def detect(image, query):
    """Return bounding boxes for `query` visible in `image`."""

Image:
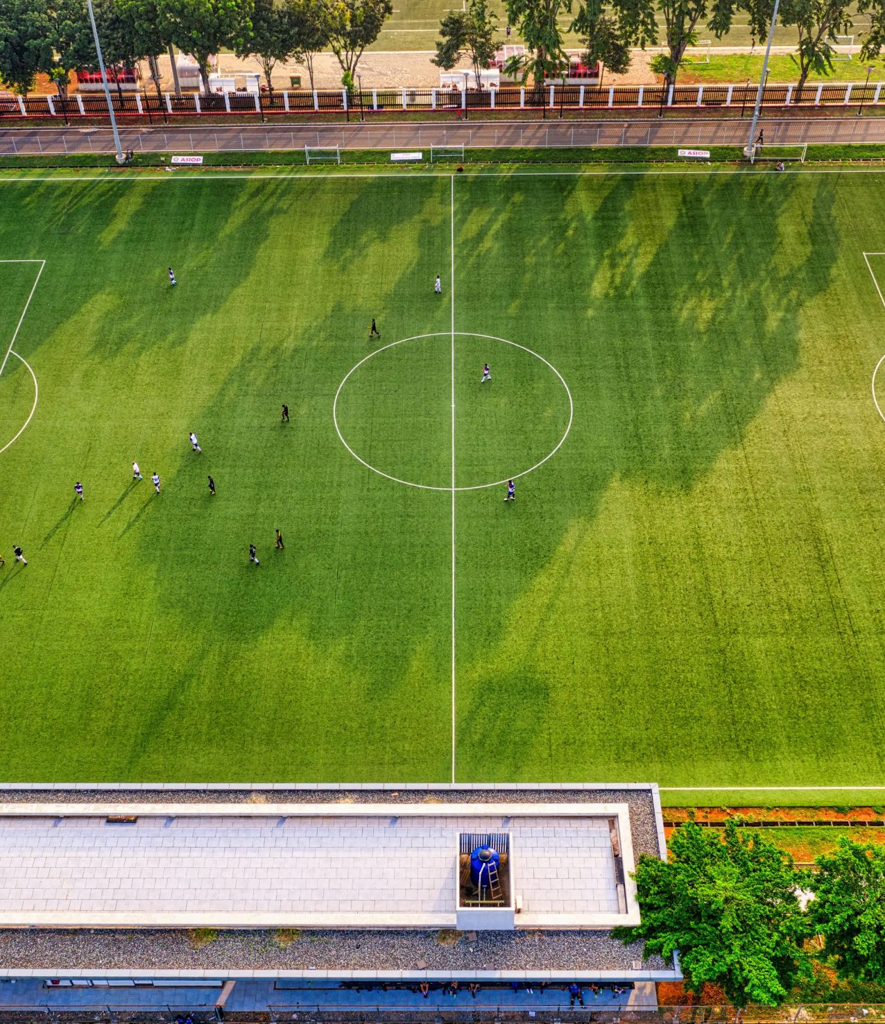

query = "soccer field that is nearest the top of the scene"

[2,0,881,55]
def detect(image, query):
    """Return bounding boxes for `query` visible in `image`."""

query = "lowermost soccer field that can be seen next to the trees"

[0,164,885,807]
